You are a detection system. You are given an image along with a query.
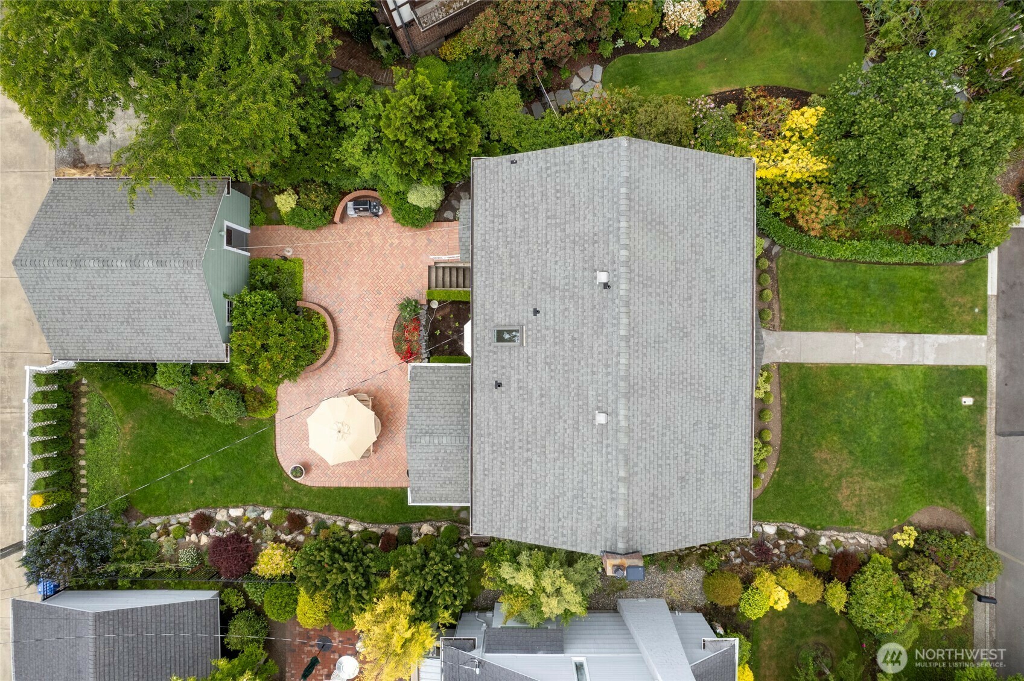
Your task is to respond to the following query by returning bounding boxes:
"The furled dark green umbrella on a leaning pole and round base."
[304,637,331,680]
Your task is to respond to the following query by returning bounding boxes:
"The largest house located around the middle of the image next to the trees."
[406,140,766,582]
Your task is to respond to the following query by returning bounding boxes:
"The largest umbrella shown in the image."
[307,396,377,465]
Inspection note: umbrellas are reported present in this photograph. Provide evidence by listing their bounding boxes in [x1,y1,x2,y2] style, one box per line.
[304,637,331,680]
[307,396,377,465]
